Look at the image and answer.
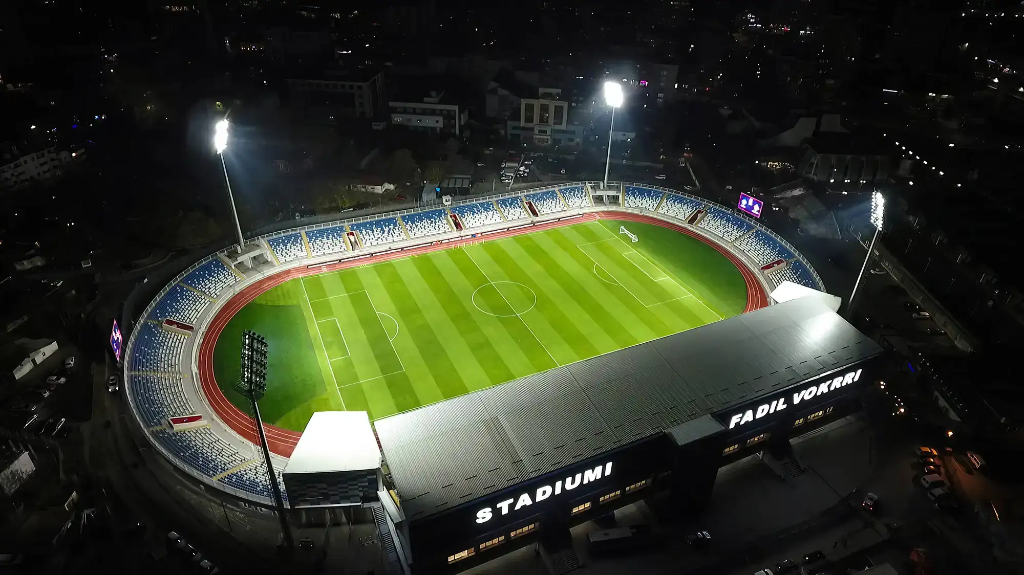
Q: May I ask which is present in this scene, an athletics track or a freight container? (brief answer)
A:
athletics track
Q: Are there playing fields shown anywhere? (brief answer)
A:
Yes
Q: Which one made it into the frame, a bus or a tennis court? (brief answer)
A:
bus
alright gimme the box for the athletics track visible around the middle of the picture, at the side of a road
[197,211,771,455]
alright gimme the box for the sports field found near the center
[297,219,730,428]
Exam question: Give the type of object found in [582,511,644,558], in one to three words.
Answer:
bus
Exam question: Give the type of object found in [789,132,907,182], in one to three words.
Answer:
building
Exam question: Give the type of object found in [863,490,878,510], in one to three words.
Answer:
car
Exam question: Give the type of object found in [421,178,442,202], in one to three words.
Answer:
shed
